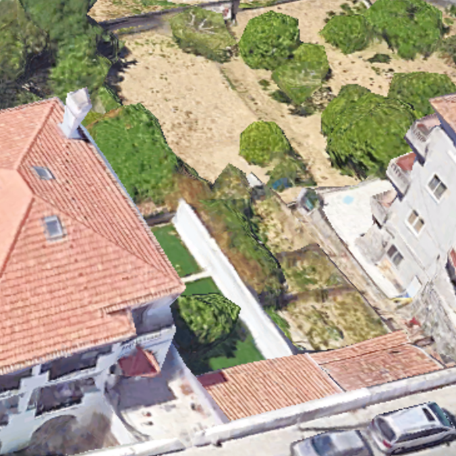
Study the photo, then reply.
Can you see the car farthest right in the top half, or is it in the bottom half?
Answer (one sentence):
The car farthest right is in the bottom half of the image.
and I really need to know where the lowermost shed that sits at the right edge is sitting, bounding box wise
[318,331,446,399]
